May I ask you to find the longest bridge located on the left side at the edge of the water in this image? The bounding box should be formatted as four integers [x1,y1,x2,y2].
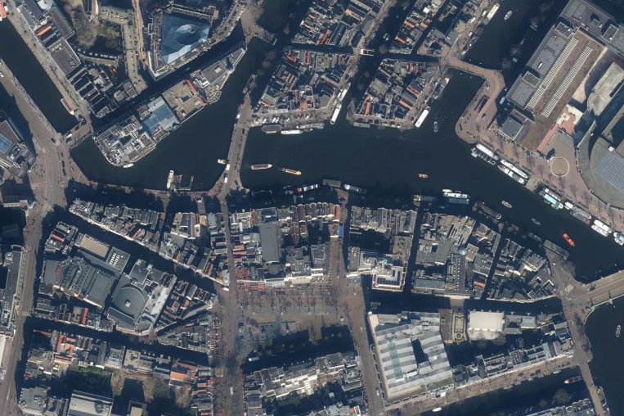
[208,88,253,192]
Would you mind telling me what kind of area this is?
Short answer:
residential area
